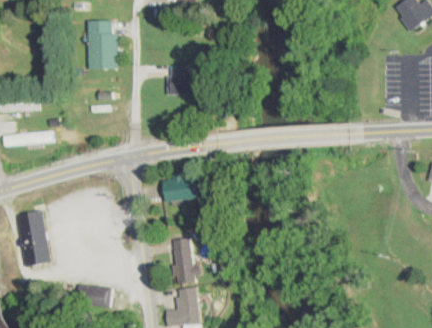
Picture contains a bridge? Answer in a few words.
Yes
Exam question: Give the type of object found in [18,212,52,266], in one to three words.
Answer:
building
